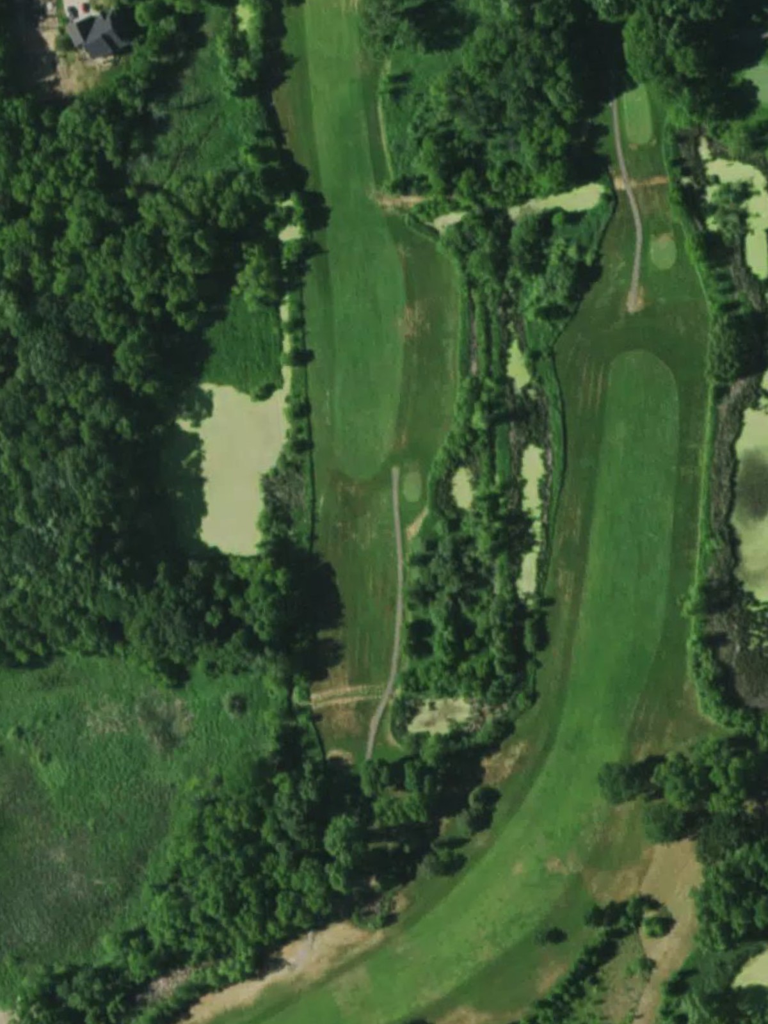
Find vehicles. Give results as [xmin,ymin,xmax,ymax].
[81,3,86,13]
[69,5,76,16]
[47,1,52,11]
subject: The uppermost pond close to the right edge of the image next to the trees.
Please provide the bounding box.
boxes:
[699,135,768,279]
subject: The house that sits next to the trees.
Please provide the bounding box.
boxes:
[67,17,126,58]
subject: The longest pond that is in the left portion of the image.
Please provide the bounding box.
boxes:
[170,276,292,558]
